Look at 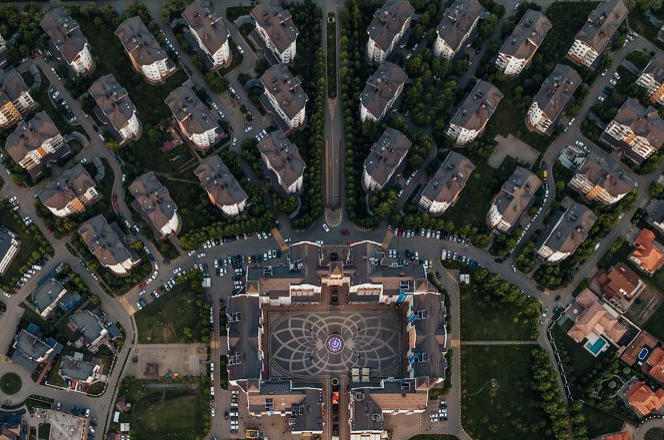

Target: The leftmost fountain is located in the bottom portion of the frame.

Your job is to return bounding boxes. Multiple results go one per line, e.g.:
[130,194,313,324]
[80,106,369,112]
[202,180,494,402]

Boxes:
[325,335,344,353]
